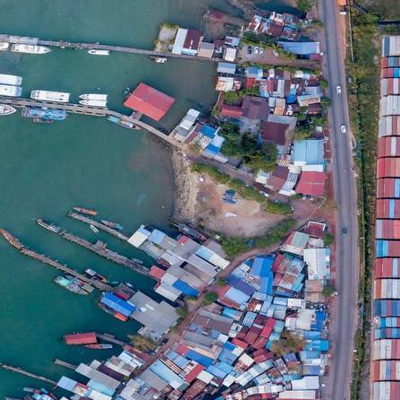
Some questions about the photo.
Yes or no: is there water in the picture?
Yes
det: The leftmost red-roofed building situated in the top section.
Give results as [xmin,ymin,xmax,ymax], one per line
[127,82,173,125]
